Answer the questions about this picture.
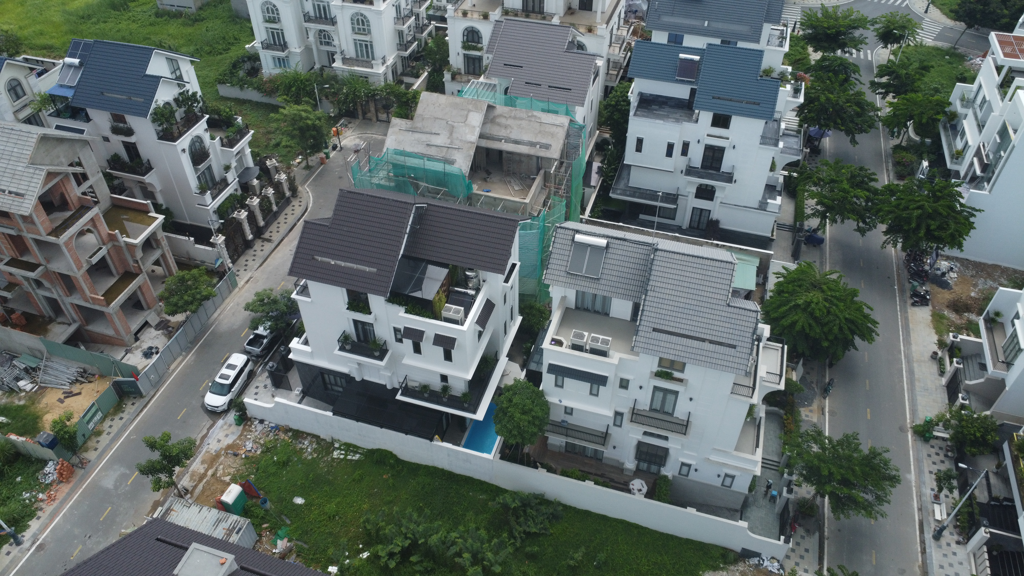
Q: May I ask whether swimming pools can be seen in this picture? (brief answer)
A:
Yes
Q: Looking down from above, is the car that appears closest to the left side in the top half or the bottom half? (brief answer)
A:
bottom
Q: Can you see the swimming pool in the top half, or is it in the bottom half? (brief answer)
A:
bottom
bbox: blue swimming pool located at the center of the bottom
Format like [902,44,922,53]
[459,405,510,457]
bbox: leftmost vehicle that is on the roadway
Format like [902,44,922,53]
[194,348,259,414]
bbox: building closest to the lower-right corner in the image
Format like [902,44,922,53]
[958,439,1024,576]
